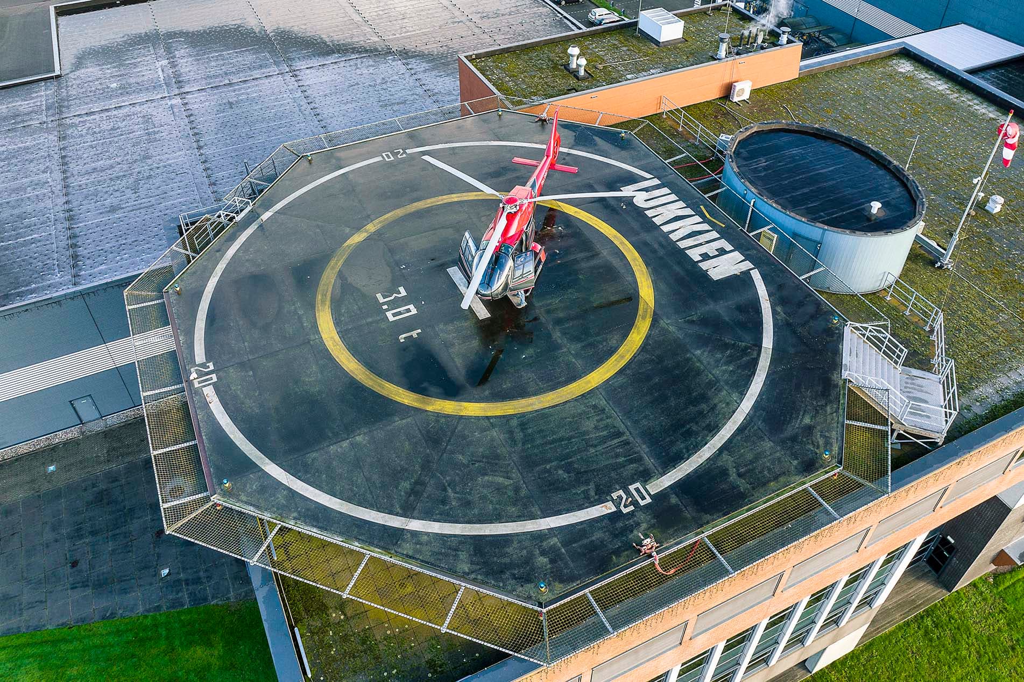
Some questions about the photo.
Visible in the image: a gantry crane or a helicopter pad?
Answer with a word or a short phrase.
helicopter pad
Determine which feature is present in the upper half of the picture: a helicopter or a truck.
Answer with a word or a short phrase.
helicopter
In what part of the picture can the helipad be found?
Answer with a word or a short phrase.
center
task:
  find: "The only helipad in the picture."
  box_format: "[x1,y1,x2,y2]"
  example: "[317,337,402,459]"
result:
[123,95,892,668]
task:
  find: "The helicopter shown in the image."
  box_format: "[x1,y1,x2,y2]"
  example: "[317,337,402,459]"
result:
[418,101,645,305]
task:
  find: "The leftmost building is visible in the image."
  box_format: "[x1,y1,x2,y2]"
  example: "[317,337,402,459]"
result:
[0,0,584,450]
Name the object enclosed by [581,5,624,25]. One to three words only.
car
